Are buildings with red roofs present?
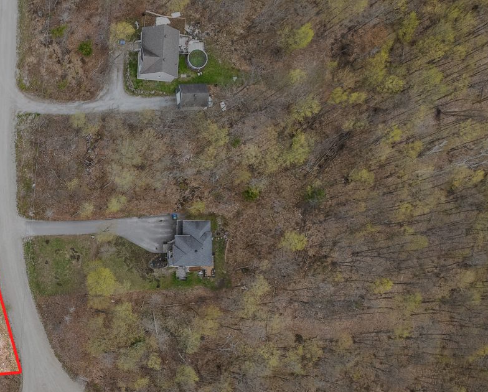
No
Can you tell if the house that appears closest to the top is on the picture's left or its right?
left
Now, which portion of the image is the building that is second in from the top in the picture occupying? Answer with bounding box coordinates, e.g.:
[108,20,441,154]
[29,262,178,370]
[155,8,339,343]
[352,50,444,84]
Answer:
[176,84,208,110]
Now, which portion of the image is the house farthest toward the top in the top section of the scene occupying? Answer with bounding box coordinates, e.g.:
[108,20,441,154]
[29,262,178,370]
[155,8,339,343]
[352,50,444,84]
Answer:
[133,26,207,83]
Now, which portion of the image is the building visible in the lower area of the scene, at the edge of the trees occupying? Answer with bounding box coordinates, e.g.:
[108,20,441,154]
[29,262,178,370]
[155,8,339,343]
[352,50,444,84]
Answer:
[165,220,215,279]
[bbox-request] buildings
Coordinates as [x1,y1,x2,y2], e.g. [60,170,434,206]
[133,26,207,83]
[176,84,208,110]
[165,220,215,279]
